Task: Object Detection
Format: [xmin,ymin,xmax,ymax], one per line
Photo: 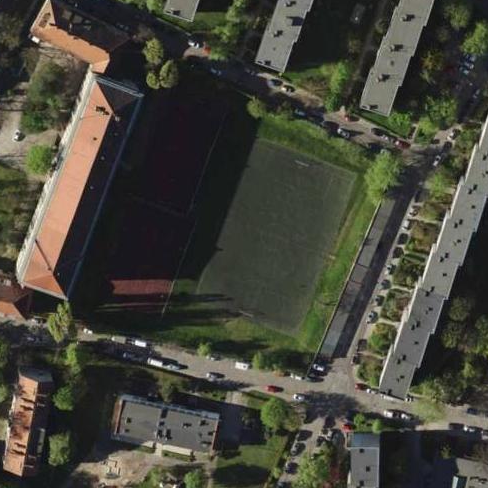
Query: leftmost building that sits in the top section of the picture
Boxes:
[21,70,145,300]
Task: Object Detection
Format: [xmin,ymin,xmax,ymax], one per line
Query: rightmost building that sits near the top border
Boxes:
[360,0,432,116]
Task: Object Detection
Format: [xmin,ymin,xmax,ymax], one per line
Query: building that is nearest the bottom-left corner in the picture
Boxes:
[4,367,56,476]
